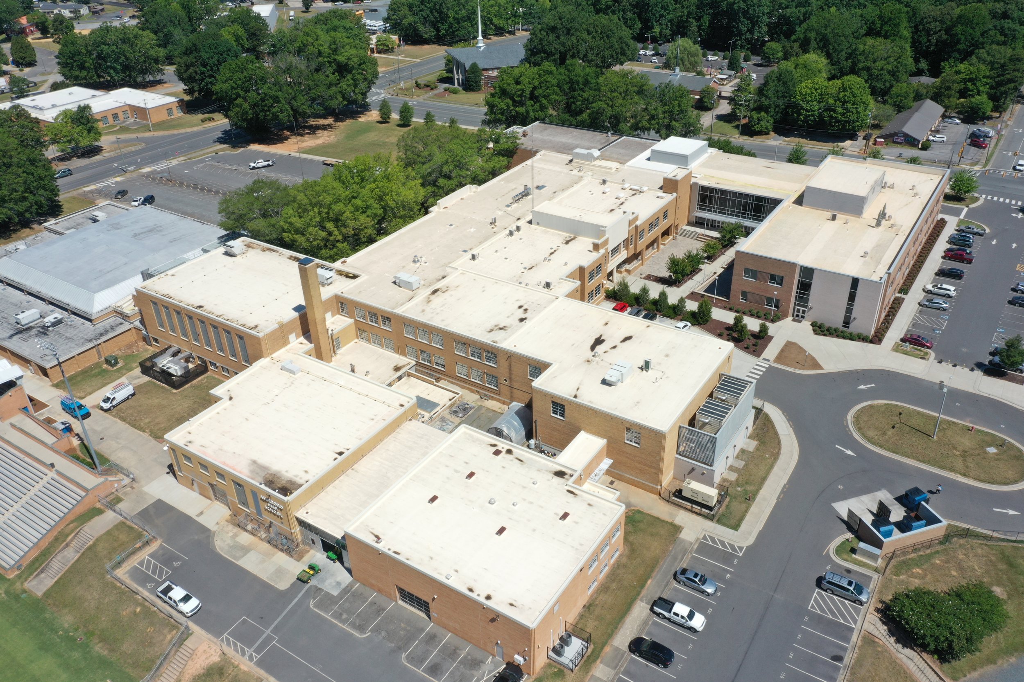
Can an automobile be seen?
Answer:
Yes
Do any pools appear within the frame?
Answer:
No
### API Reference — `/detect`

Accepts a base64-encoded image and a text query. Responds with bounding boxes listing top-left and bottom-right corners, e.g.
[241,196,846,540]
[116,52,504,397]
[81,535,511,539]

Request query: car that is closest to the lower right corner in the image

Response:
[821,574,872,609]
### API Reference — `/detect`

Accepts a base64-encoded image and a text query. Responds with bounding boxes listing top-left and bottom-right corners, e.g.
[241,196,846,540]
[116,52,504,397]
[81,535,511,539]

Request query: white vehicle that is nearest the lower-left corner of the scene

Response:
[151,585,202,622]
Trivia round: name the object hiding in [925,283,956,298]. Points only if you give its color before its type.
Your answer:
white car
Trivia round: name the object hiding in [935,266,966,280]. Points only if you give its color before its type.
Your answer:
black car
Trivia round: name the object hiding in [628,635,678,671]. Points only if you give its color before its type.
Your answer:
black car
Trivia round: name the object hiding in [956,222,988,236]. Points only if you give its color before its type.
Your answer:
gray vehicle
